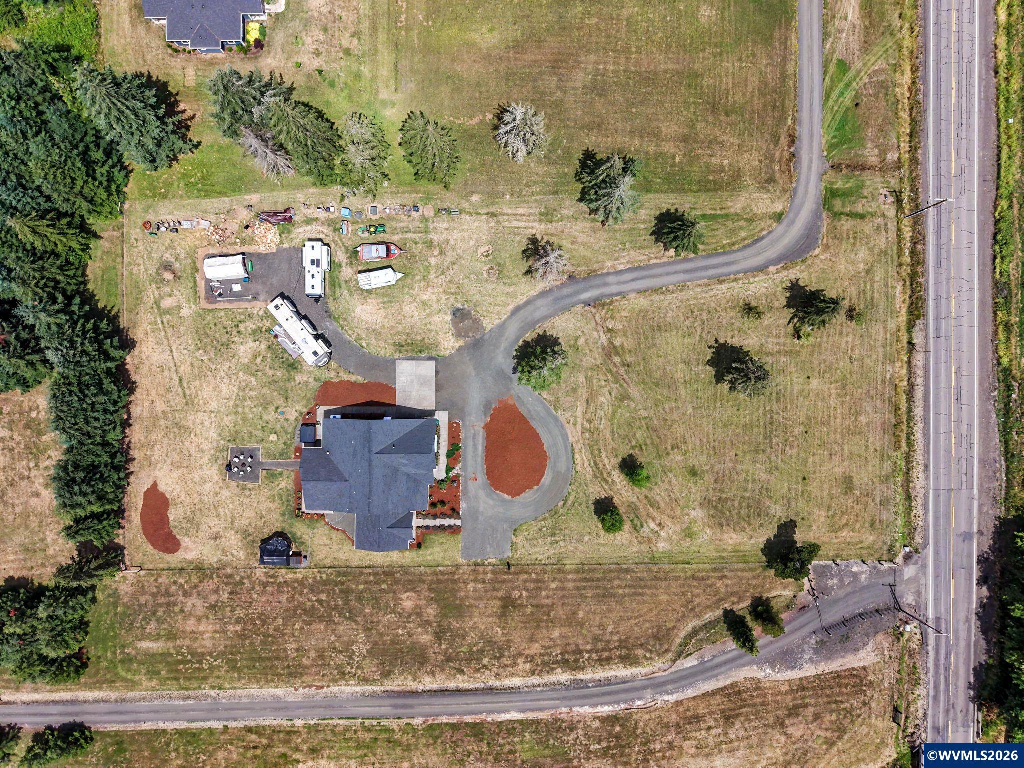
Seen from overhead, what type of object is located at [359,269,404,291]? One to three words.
trailer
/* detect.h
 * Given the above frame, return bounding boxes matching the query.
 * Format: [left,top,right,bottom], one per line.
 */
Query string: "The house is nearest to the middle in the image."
[298,419,438,552]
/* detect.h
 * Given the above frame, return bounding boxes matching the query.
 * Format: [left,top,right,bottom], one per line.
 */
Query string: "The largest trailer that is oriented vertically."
[302,241,331,307]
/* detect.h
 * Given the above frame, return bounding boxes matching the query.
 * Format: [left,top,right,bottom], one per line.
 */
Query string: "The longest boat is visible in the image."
[352,245,407,262]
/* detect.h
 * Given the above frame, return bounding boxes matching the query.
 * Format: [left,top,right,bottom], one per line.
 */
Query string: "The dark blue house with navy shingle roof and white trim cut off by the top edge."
[139,0,266,56]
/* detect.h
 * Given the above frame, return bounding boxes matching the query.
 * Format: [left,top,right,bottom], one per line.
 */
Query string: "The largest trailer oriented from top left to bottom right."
[268,297,331,365]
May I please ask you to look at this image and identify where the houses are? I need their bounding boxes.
[139,0,266,56]
[298,419,438,552]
